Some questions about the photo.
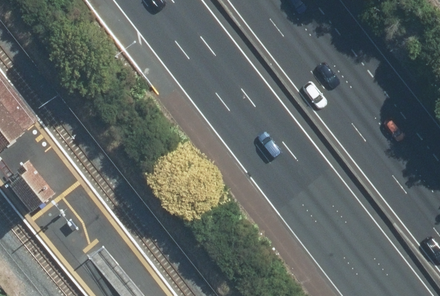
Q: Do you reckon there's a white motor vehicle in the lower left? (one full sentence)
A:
No, there's no white motor vehicle to be seen in the lower left.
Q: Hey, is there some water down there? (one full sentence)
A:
No, water can't be seen anywhere here.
